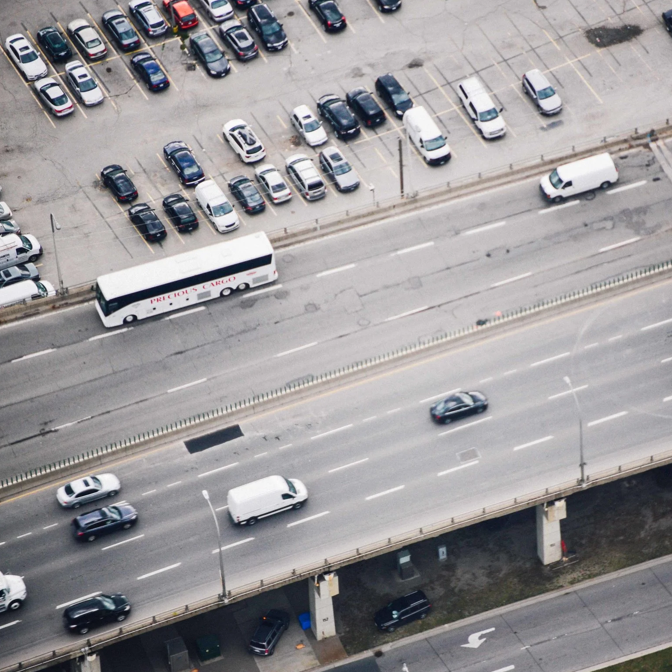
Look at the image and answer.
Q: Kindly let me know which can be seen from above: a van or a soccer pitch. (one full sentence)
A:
Looking from above, you can make out a van.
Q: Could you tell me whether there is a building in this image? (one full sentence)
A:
No, no building is visible in the view.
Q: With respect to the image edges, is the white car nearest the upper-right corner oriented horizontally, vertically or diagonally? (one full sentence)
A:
In this picture, the white car nearest the upper-right corner is oriented diagonally.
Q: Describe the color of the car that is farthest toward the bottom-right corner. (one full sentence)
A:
From above, the car that is farthest toward the bottom-right corner appears black.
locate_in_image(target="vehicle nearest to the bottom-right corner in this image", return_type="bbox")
[373,590,433,634]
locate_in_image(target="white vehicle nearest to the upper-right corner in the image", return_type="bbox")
[522,72,563,113]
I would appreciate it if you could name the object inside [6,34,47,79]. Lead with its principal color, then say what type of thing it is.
white car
